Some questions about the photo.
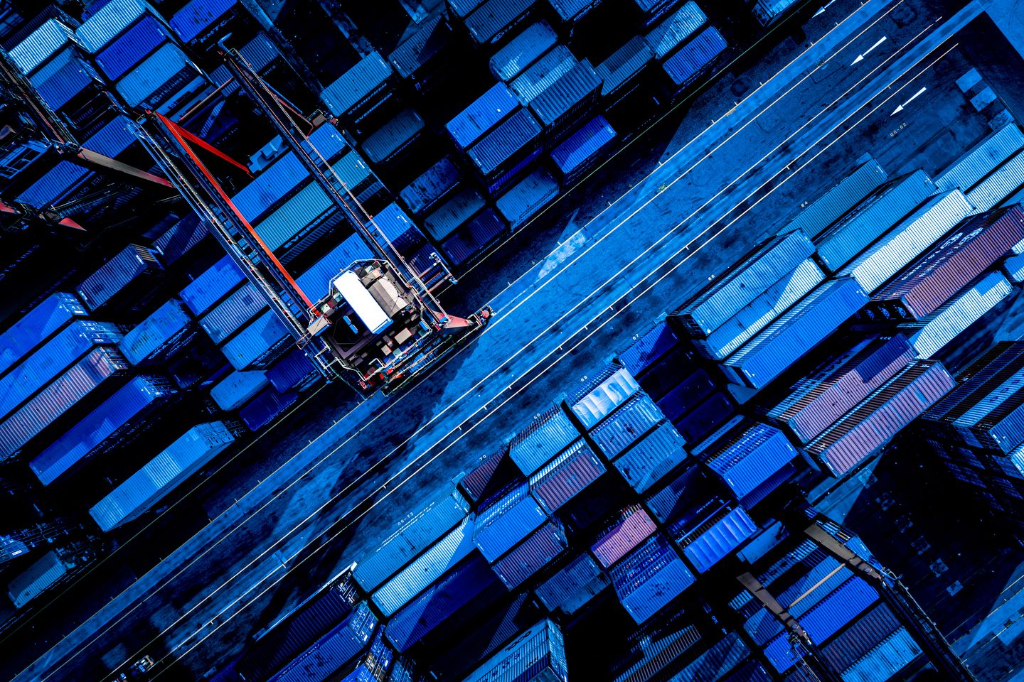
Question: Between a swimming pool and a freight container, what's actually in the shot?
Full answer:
I can see a freight container in this picture.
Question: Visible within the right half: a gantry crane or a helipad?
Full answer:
The feature located within the right half is a gantry crane.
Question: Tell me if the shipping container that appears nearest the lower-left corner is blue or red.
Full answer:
From above, the shipping container that appears nearest the lower-left corner appears blue.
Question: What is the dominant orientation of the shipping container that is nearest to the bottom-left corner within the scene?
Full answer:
The shipping container that is nearest to the bottom-left corner is oriented on a diagonal.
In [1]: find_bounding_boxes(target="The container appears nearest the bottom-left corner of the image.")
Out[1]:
[4,544,82,609]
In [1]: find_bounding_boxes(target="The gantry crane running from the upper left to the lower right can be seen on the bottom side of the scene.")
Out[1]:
[677,471,993,682]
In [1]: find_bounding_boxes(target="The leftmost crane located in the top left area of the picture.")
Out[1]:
[0,0,221,253]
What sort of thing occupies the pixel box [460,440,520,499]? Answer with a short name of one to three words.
shipping container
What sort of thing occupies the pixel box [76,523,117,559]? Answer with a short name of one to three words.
work vehicle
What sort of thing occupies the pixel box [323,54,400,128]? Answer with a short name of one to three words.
shipping container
